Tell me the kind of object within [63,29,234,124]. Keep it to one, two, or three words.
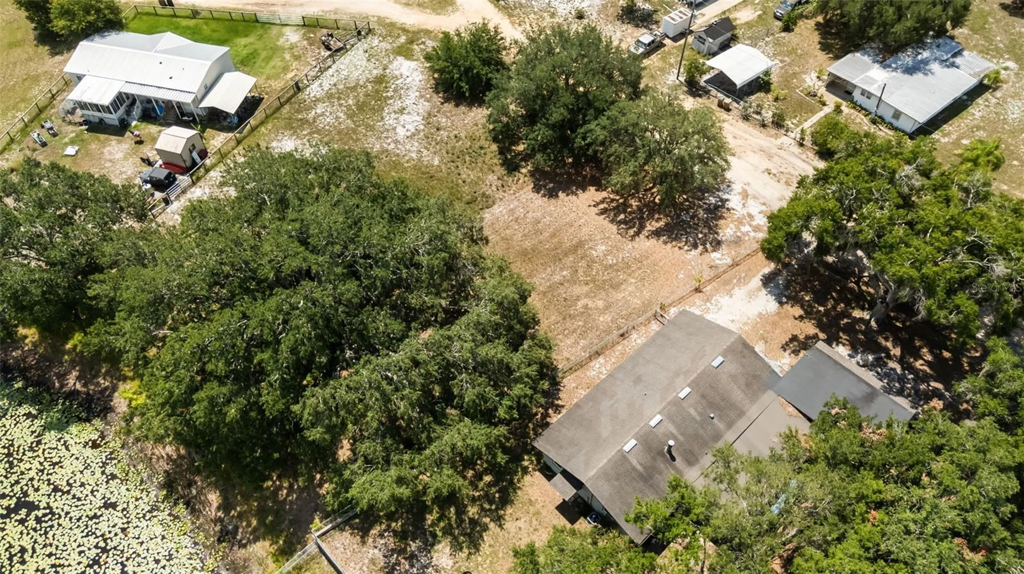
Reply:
house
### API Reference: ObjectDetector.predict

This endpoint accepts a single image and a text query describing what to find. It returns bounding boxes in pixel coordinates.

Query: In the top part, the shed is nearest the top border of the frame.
[692,16,735,55]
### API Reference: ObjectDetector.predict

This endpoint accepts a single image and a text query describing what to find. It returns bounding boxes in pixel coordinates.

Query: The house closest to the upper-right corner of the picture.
[821,35,994,136]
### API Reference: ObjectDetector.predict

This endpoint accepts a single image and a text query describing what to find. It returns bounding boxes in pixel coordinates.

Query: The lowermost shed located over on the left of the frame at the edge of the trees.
[154,127,205,170]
